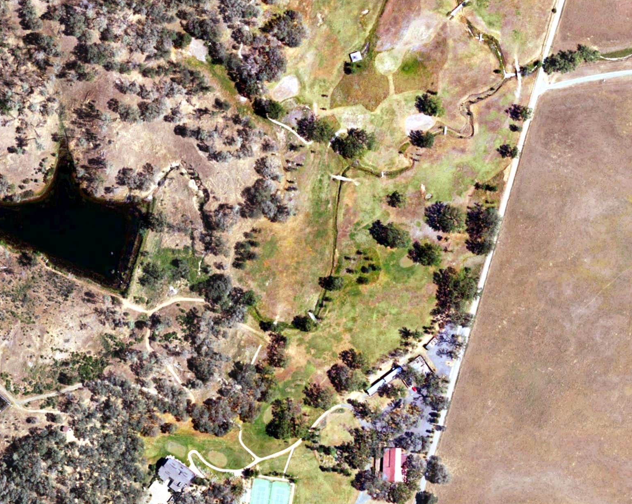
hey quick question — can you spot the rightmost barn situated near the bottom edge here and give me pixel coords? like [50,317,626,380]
[383,448,408,483]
